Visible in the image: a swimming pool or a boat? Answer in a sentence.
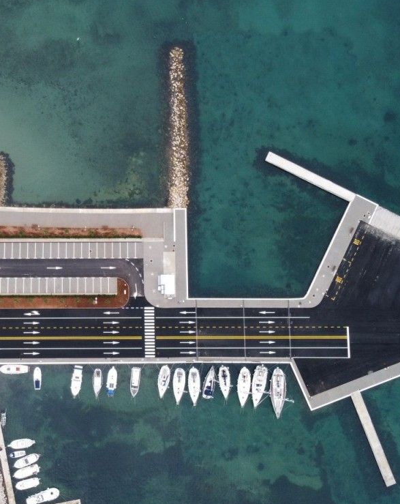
The image shows a boat.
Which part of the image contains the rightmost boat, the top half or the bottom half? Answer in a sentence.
The rightmost boat sits in the bottom half of the picture.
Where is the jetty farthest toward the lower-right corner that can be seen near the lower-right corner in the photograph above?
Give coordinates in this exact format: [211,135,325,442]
[351,392,395,486]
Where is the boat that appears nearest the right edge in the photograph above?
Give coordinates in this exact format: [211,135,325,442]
[269,365,294,426]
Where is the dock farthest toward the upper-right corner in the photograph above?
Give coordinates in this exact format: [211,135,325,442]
[265,151,355,202]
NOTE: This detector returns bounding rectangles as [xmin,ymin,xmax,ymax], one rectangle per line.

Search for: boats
[26,490,60,504]
[91,365,102,404]
[9,438,35,450]
[269,365,294,426]
[106,367,117,396]
[187,367,201,413]
[14,462,40,478]
[202,367,217,399]
[157,364,170,404]
[0,365,29,374]
[10,450,27,458]
[130,365,140,402]
[218,364,232,406]
[250,364,268,413]
[33,368,41,390]
[0,410,6,425]
[71,365,83,403]
[236,367,253,412]
[16,475,41,490]
[172,364,188,405]
[14,452,40,468]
